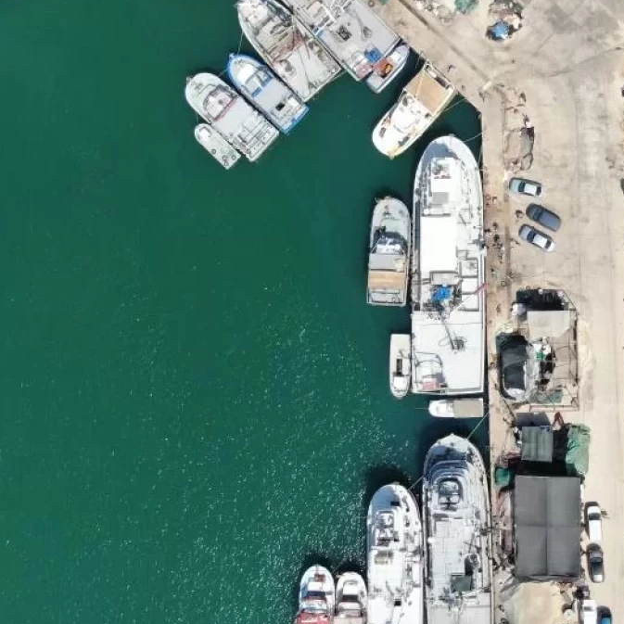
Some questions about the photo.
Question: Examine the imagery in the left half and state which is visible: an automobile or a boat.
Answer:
boat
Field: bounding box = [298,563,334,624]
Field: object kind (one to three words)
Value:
boat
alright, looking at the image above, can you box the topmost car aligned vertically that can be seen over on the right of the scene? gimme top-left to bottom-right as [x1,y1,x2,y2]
[586,505,604,545]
